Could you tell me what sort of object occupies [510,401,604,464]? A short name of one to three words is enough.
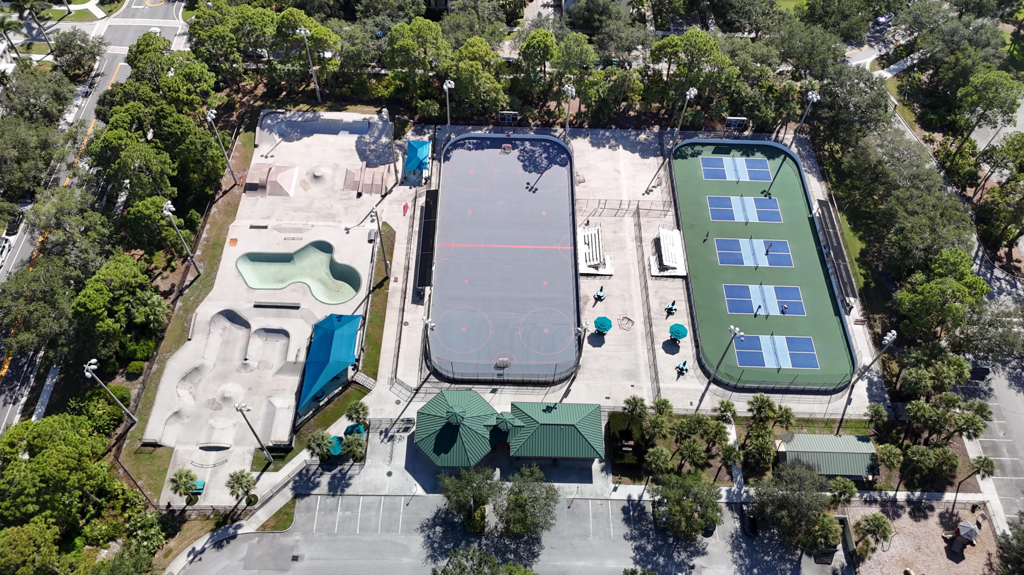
building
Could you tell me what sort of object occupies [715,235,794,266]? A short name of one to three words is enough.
sports court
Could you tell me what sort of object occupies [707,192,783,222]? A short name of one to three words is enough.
sports court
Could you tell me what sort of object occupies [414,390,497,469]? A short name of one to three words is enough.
building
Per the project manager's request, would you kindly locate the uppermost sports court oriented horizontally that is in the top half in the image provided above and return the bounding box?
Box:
[700,154,773,181]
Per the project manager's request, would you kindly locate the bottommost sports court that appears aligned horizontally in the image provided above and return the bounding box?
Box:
[733,331,820,369]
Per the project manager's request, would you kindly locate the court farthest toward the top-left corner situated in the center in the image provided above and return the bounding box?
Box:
[427,132,582,385]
